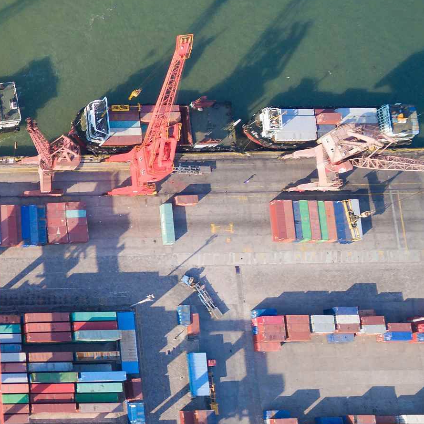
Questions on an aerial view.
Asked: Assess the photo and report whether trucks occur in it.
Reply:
Yes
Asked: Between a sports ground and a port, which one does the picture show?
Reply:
port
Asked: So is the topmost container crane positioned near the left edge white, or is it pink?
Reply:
pink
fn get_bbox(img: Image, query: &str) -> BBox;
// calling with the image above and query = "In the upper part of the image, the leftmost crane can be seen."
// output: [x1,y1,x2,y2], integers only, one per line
[0,114,86,197]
